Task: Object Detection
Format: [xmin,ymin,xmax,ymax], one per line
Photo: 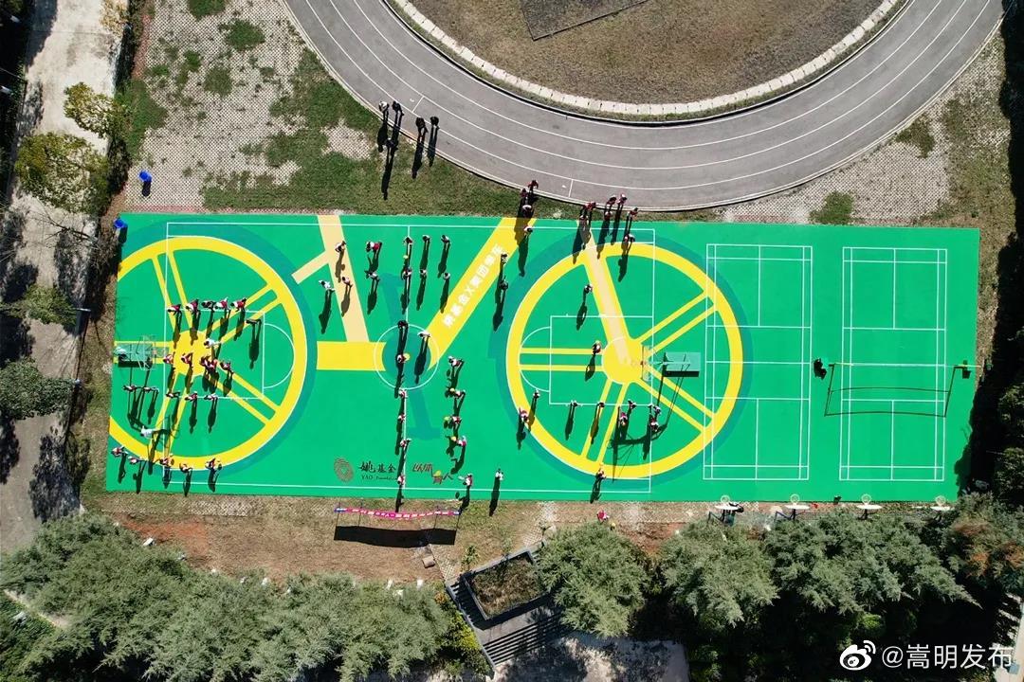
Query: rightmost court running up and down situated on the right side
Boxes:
[840,247,948,481]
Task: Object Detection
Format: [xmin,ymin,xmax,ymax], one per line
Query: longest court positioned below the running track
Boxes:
[106,214,979,501]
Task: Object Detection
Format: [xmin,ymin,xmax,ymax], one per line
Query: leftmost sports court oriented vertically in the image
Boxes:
[703,243,814,481]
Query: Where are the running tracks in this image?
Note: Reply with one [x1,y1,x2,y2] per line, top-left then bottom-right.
[275,0,1015,214]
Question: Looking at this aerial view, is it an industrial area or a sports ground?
sports ground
